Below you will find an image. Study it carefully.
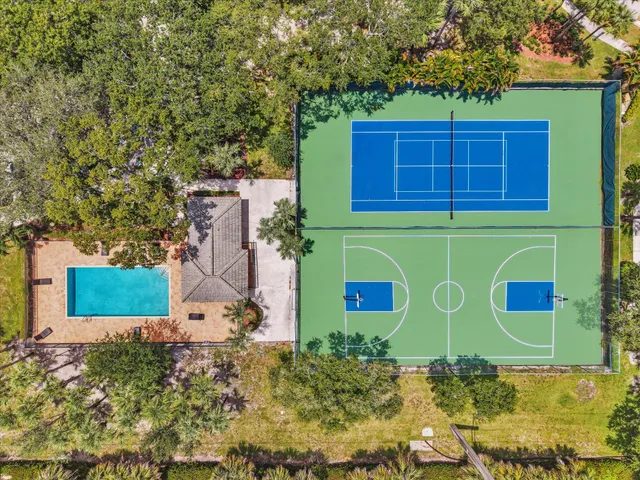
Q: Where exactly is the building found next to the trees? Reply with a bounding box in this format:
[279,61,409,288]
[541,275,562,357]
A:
[181,196,249,302]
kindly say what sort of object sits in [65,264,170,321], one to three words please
swimming pool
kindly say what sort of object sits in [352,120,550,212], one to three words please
tennis court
